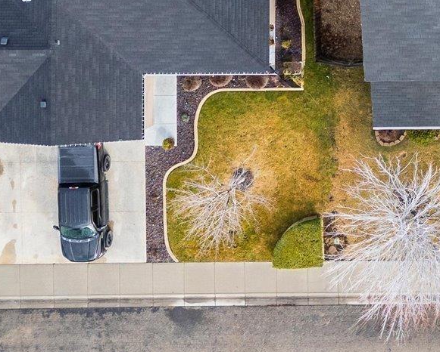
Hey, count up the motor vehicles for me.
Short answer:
1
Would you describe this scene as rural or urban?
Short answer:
urban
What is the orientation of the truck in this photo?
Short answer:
from top to bottom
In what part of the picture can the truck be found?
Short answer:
left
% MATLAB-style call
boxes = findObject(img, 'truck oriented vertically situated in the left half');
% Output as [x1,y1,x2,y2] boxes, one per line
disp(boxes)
[50,144,110,269]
